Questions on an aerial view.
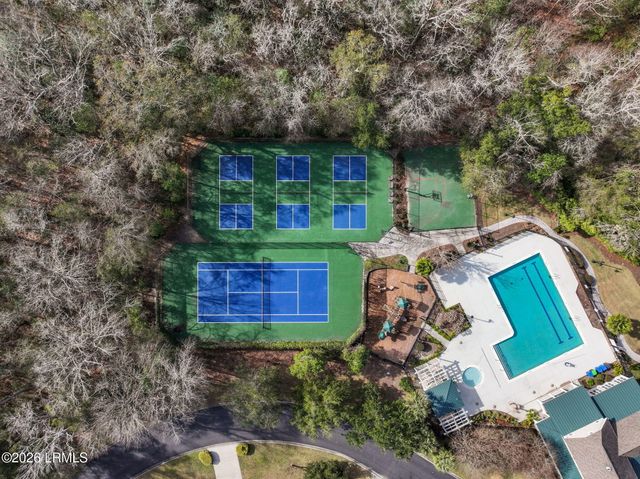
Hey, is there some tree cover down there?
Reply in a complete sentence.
Yes, tree cover can be seen from above here.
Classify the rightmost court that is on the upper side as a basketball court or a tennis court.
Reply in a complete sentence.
The rightmost court that is on the upper side can be classified as a basketball court.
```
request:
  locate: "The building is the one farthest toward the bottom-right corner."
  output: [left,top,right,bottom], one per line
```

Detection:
[532,373,640,479]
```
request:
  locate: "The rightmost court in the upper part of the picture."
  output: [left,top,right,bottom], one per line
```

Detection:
[404,147,476,231]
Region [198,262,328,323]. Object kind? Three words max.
tennis court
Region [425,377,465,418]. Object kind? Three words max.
building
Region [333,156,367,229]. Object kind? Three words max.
sports court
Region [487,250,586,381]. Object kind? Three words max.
swimming pool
